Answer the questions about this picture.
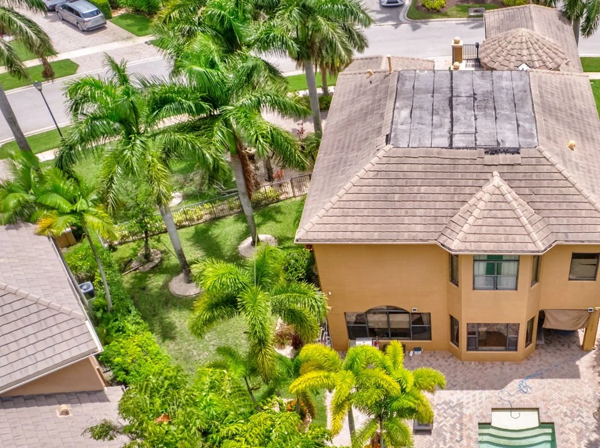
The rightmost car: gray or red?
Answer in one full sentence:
The color of the rightmost car is gray.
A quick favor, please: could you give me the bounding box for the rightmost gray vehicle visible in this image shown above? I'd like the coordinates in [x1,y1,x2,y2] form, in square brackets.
[53,0,103,27]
